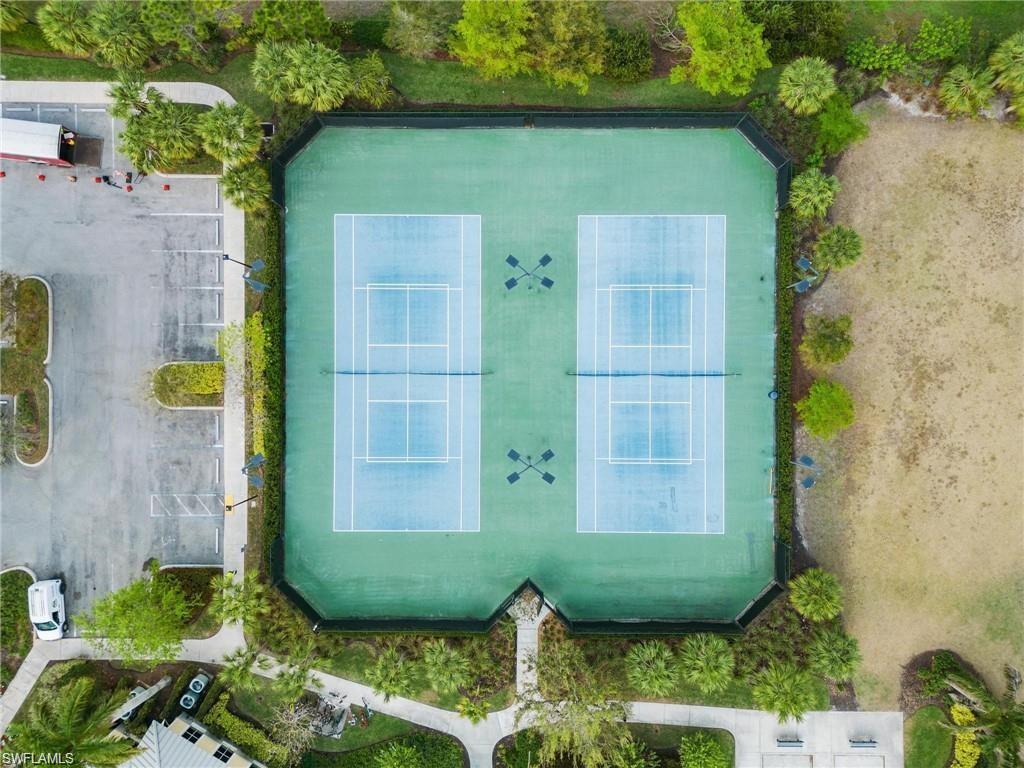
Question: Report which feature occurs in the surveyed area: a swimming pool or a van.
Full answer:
Of the two, only a van appears.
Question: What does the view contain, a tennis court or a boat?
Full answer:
There is a tennis court in the scene.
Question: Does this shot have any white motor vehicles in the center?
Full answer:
No, looking in the center, there is no white motor vehicle.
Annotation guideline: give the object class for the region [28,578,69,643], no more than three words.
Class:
van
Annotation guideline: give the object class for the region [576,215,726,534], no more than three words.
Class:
tennis court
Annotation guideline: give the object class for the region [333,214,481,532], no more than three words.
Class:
tennis court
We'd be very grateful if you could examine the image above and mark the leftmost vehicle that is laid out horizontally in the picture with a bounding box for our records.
[0,116,106,165]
